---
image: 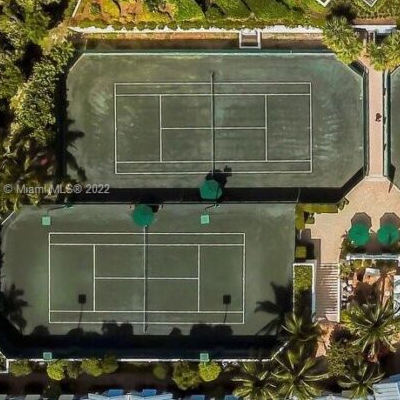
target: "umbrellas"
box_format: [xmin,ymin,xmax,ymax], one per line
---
[200,180,222,200]
[348,223,370,245]
[132,206,155,228]
[376,223,398,245]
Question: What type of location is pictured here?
sports ground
